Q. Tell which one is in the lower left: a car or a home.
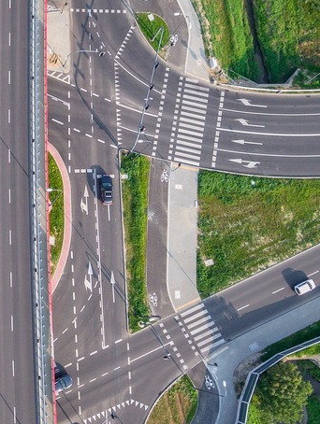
car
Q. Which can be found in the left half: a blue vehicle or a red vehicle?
blue vehicle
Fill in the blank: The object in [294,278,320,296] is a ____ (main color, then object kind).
white car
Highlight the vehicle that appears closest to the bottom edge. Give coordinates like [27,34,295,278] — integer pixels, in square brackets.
[53,372,75,392]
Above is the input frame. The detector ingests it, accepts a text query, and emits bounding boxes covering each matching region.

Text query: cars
[100,174,114,204]
[294,278,320,296]
[53,372,75,392]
